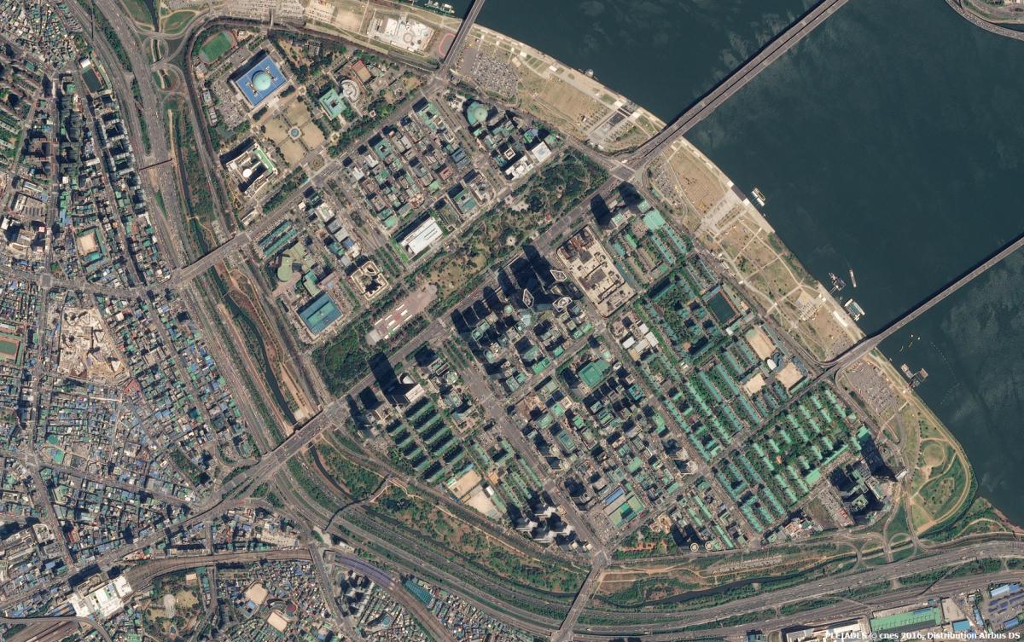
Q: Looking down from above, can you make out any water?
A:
Yes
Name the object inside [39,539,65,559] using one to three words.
building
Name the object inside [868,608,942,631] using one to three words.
building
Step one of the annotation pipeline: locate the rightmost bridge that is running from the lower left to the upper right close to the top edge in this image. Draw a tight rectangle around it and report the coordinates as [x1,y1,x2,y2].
[624,0,847,170]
